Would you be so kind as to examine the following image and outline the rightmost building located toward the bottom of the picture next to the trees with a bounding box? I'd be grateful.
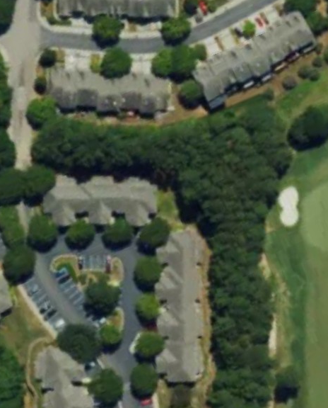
[156,228,203,384]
